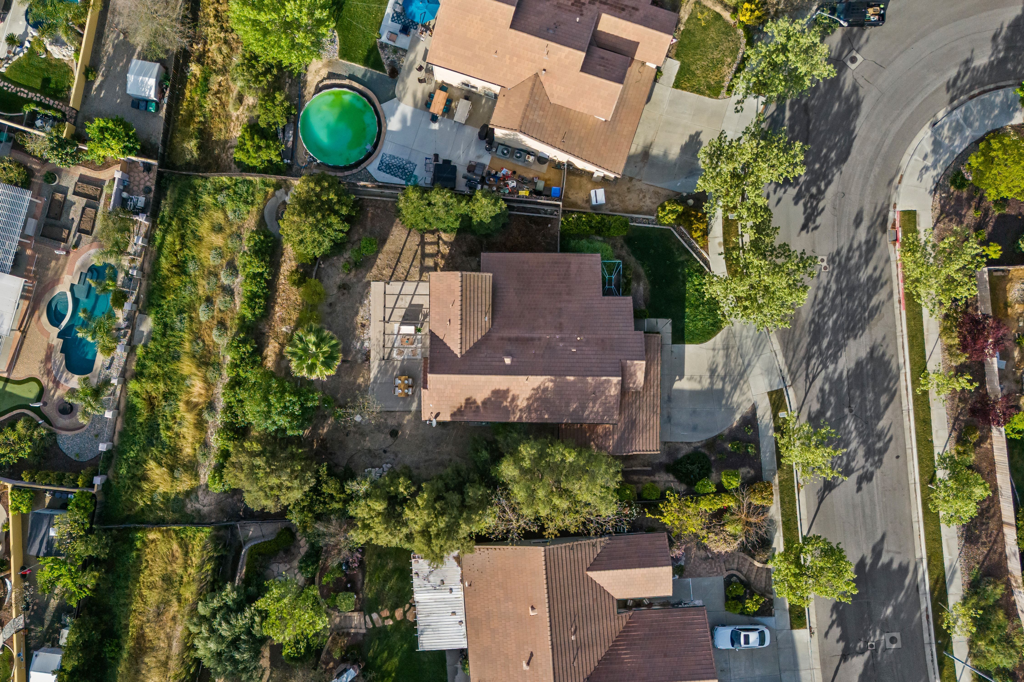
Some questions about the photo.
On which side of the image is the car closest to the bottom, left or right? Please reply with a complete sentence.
The car closest to the bottom sits on the right side.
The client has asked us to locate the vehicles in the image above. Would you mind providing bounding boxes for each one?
[815,0,887,33]
[712,622,772,653]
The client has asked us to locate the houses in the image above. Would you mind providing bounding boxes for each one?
[460,529,719,682]
[425,0,681,176]
[421,252,662,456]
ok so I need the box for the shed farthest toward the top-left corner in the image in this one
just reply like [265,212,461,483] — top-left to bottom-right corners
[126,59,166,103]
